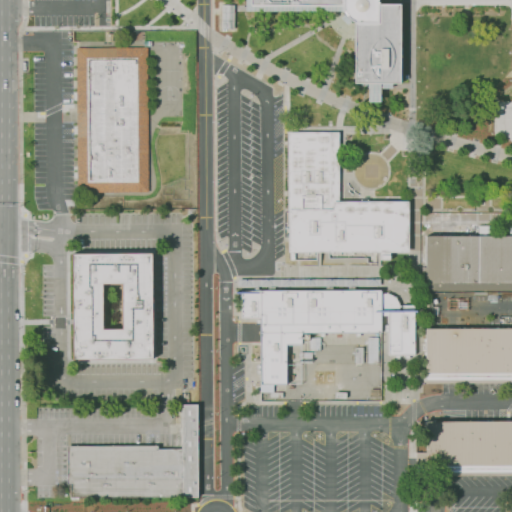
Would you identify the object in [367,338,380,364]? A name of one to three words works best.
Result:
shed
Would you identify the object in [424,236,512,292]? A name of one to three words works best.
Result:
building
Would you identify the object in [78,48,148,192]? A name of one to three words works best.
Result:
building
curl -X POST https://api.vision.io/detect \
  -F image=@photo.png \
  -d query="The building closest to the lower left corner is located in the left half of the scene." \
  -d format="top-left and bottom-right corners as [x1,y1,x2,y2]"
[70,446,183,500]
